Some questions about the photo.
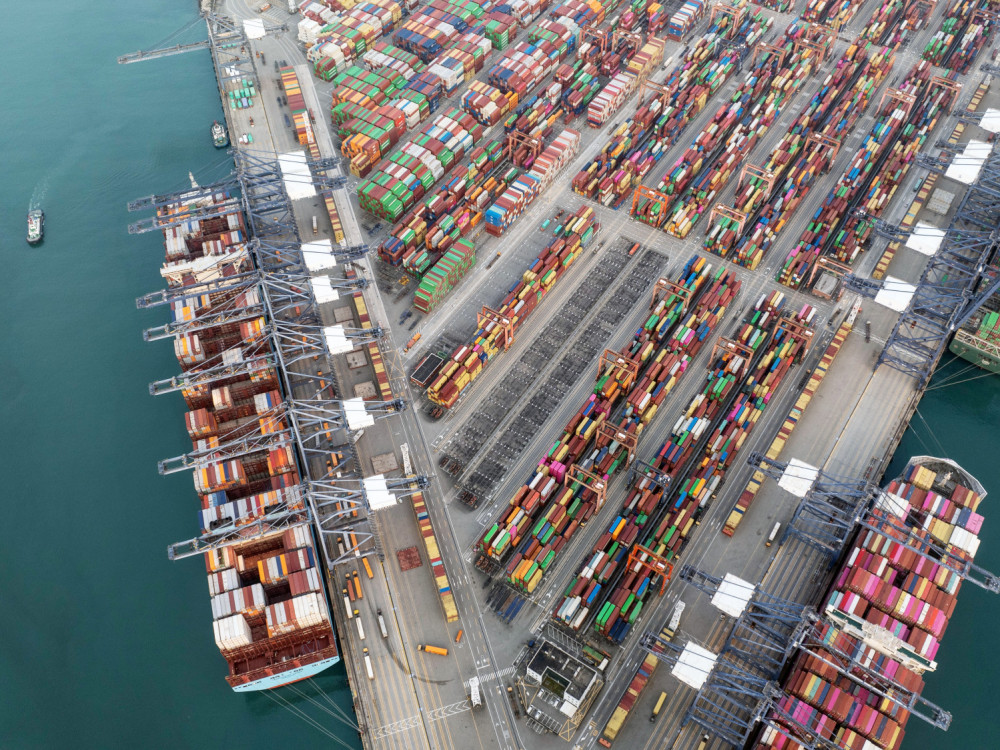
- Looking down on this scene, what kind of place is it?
port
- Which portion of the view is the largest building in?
bottom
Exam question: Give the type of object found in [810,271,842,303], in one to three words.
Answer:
shed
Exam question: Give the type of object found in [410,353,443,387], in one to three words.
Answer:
shed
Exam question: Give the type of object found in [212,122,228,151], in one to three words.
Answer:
boat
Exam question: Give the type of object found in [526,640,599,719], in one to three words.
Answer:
building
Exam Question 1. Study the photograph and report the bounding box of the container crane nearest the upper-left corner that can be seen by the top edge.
[110,5,284,104]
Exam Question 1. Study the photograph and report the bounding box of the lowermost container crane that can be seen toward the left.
[167,473,424,579]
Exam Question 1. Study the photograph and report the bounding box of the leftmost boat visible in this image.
[28,212,47,246]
